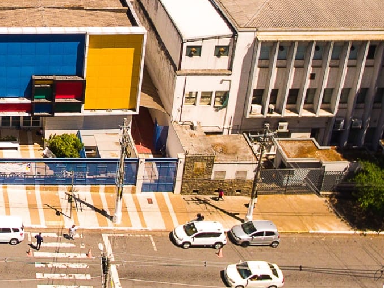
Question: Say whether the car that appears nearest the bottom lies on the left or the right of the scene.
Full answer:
The car that appears nearest the bottom appears in the right half of the scene.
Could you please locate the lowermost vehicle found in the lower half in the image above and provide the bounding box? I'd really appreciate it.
[223,259,288,288]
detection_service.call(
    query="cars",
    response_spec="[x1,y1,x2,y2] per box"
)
[0,213,25,242]
[229,219,284,245]
[223,259,288,288]
[172,217,230,246]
